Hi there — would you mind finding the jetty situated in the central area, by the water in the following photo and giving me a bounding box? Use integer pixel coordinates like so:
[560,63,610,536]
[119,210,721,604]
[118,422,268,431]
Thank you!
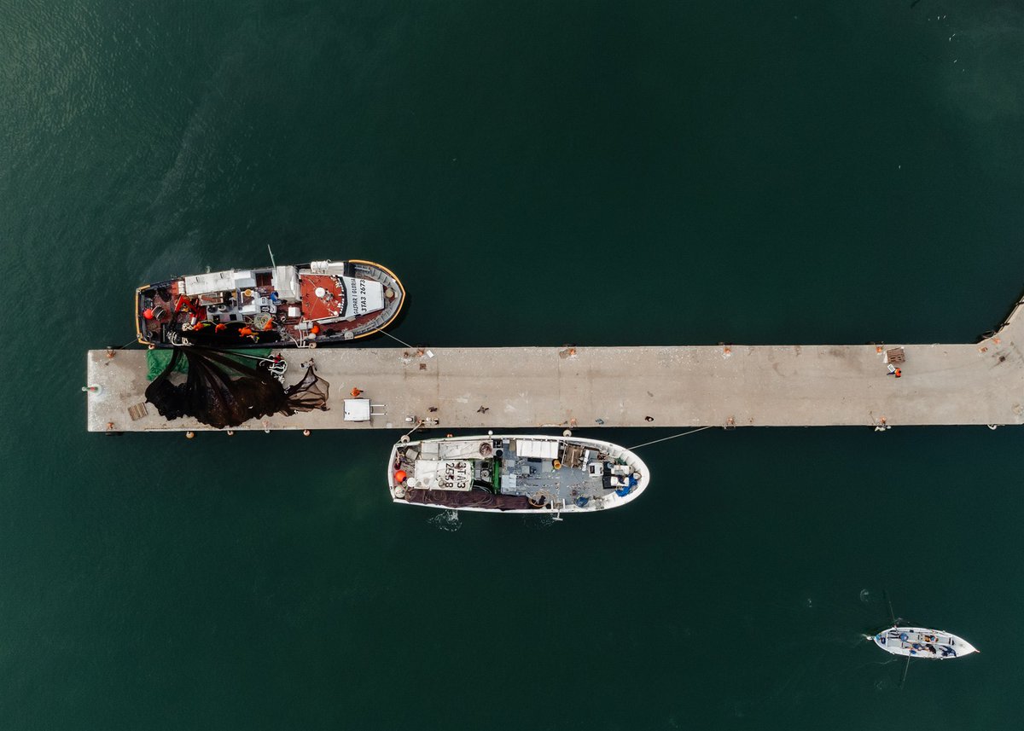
[89,289,1024,431]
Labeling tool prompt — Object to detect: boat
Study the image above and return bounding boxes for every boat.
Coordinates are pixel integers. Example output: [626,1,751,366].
[388,430,650,520]
[868,626,981,660]
[135,245,407,348]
